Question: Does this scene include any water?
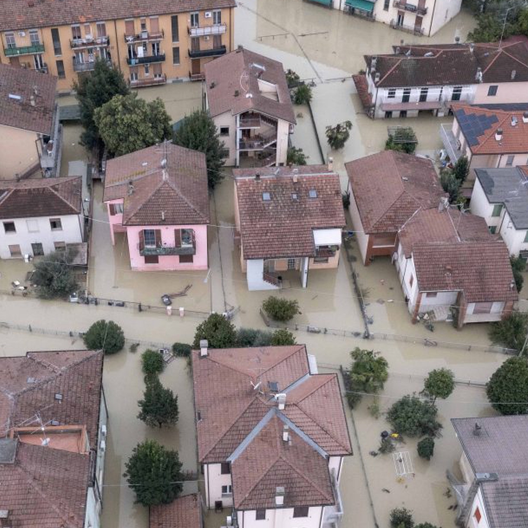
Yes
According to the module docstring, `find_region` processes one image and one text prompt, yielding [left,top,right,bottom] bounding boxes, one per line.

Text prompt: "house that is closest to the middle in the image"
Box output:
[232,153,347,292]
